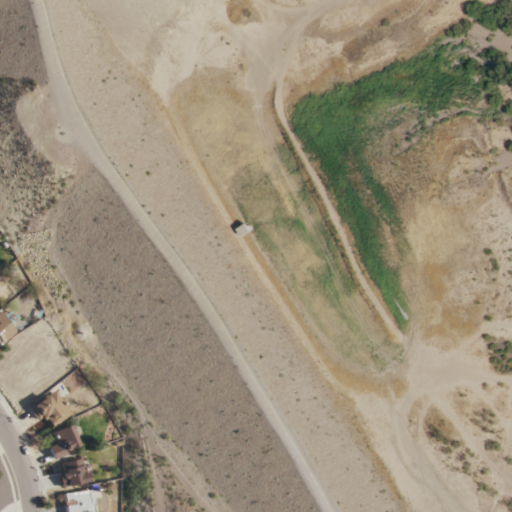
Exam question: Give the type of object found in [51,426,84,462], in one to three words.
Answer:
house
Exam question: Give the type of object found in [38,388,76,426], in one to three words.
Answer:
house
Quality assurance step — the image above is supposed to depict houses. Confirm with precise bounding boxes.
[59,490,96,512]
[51,426,84,462]
[38,388,76,426]
[64,458,96,486]
[0,316,16,348]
